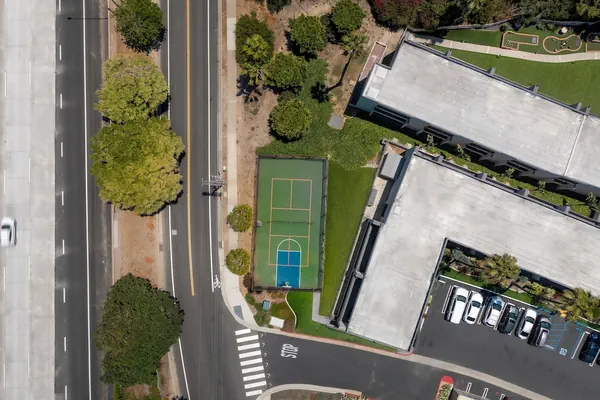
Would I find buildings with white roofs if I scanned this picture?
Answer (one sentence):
Yes, I can see a building with a white roof in this picture.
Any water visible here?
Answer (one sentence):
No, there is no water in the image.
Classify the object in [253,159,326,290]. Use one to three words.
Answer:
sports court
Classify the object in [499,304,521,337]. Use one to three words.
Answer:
car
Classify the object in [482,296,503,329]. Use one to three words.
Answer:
car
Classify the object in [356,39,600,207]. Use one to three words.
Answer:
building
